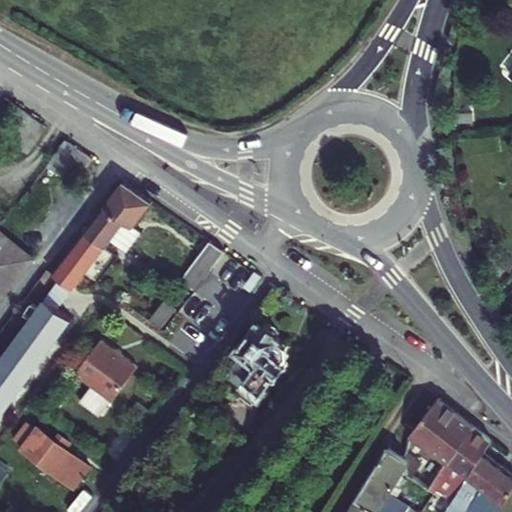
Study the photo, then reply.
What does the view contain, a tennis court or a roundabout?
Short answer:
roundabout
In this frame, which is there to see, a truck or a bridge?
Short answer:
truck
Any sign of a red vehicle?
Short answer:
Yes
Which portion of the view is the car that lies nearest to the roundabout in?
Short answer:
right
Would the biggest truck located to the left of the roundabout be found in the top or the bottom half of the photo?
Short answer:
top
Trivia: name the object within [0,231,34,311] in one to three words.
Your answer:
house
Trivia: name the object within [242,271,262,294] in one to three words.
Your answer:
vehicle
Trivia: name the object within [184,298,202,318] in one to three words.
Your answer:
car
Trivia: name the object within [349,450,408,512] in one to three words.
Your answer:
building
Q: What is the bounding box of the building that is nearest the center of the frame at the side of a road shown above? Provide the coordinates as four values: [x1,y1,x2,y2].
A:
[186,243,224,287]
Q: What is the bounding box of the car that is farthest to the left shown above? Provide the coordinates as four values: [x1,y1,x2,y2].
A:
[19,302,36,322]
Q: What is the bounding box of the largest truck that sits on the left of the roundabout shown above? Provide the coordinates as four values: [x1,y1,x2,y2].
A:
[116,105,186,144]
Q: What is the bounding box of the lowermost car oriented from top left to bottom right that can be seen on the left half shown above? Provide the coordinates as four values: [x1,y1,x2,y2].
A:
[183,324,204,343]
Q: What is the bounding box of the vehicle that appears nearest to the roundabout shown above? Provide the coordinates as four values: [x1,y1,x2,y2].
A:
[362,252,385,272]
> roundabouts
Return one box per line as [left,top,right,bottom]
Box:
[267,89,433,258]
